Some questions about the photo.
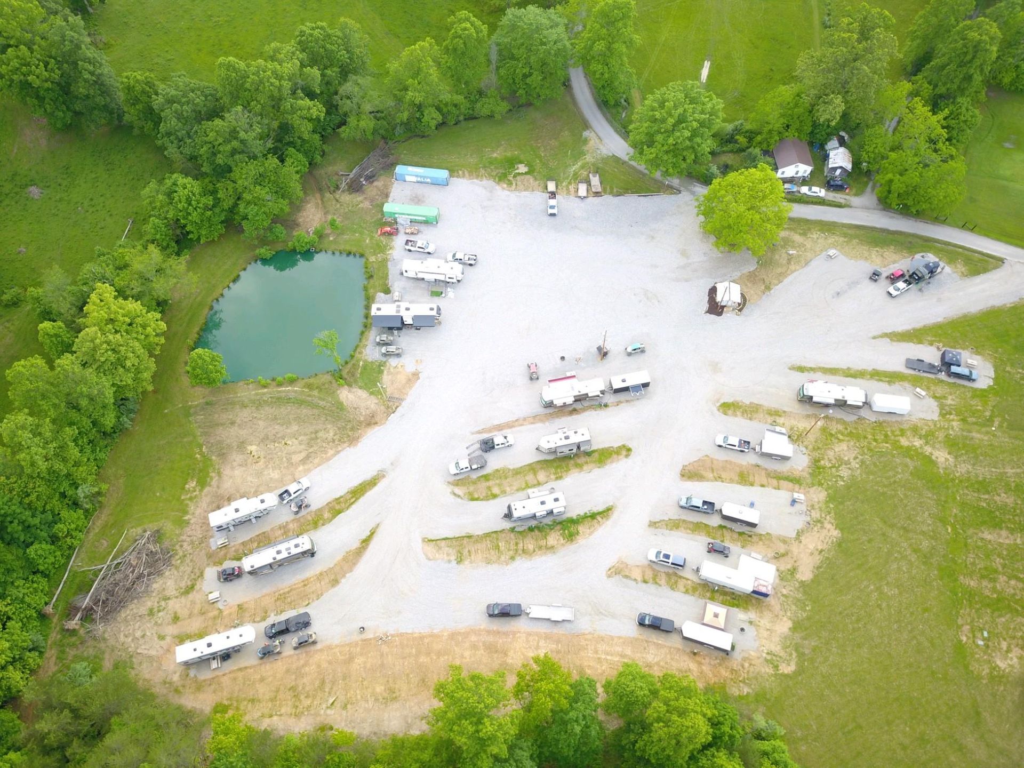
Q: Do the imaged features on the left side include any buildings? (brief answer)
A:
No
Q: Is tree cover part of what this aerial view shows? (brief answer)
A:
Yes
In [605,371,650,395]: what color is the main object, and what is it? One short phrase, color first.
white trailer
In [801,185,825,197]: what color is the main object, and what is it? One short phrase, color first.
white vehicle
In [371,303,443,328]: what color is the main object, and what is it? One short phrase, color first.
white camper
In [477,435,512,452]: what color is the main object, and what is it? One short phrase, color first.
white vehicle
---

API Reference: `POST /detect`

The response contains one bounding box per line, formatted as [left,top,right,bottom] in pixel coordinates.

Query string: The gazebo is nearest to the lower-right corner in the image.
[703,603,727,631]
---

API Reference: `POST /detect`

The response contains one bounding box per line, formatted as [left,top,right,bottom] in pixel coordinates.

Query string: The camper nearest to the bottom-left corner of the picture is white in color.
[175,626,259,667]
